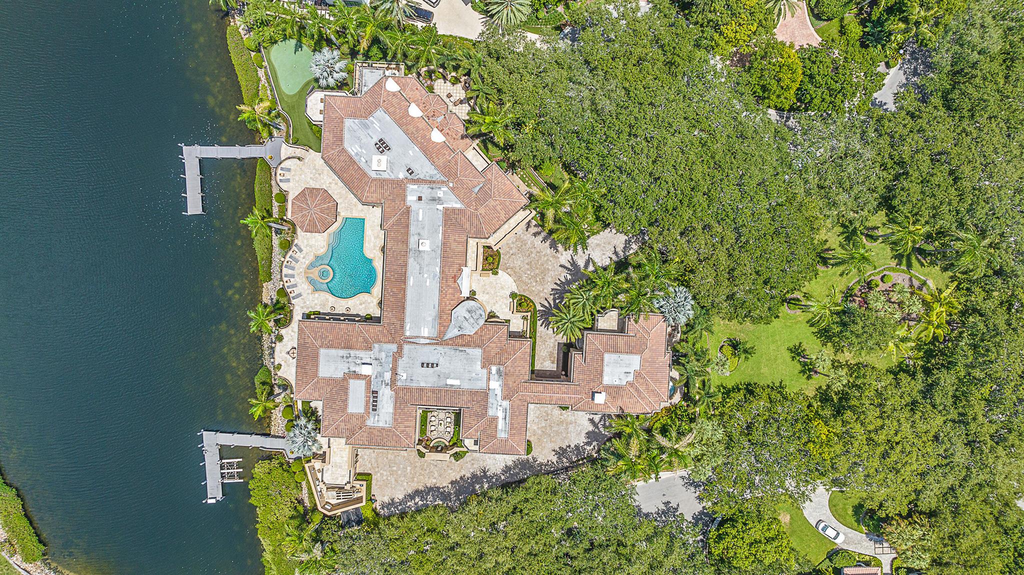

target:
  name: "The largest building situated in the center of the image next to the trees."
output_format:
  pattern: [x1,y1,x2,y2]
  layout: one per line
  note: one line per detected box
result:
[294,61,672,456]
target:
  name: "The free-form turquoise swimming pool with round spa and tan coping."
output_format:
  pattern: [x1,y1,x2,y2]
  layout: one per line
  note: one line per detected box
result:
[301,214,381,302]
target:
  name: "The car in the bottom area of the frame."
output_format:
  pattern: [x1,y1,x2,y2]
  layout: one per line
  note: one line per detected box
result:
[815,518,848,547]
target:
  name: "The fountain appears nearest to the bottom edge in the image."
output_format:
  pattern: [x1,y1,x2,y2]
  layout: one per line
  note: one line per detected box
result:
[430,437,449,452]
